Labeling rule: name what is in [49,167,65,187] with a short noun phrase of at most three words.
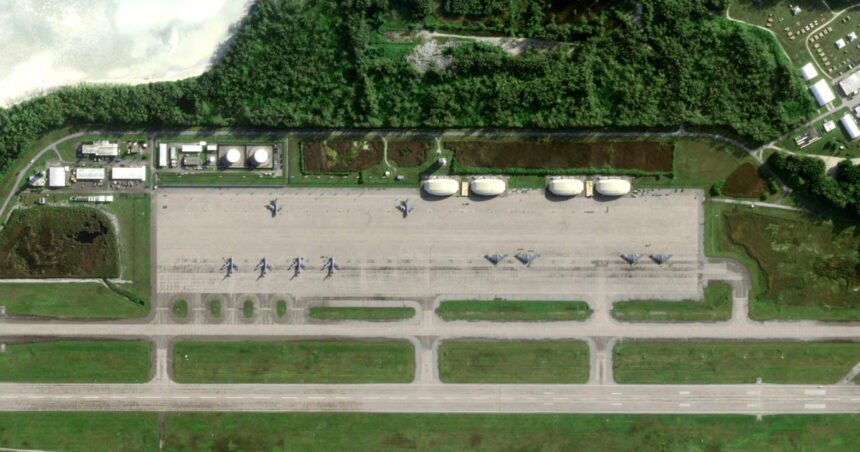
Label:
building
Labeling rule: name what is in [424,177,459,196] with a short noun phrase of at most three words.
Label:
hangar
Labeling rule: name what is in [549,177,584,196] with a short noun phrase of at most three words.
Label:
hangar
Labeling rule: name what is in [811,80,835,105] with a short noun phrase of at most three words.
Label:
building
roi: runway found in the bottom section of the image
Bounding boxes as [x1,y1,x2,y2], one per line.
[0,380,860,418]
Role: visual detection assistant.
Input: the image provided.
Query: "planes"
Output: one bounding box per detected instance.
[621,254,644,263]
[485,254,508,263]
[256,258,274,276]
[323,257,341,276]
[515,254,538,263]
[223,257,240,276]
[397,199,416,217]
[650,254,673,263]
[290,258,308,276]
[267,197,285,217]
